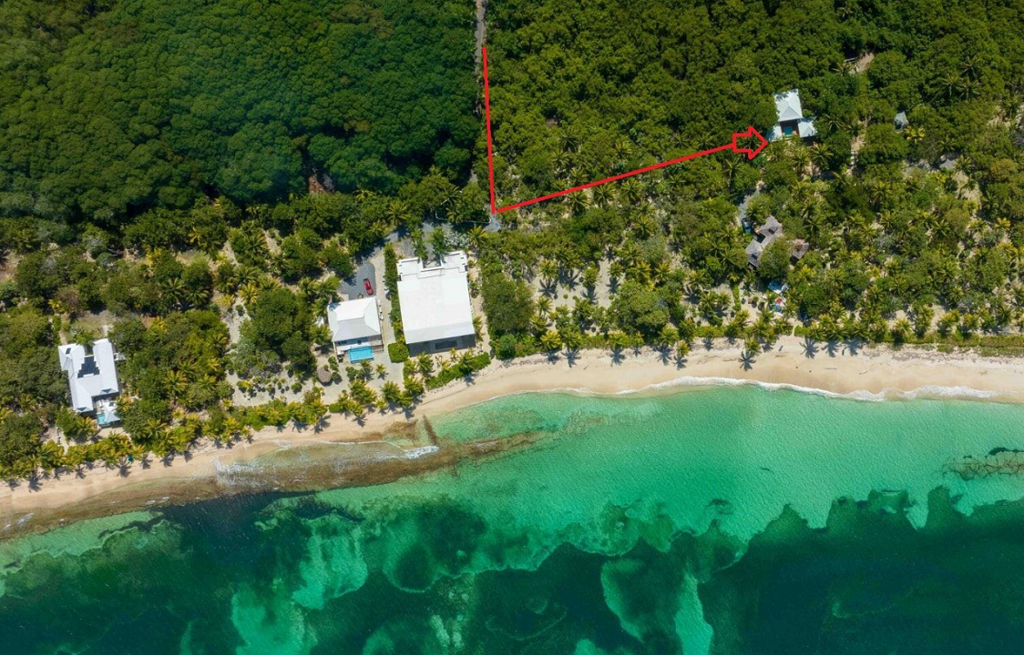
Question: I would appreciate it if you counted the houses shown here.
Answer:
five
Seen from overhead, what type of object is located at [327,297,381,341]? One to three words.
house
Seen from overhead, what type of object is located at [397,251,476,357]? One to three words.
house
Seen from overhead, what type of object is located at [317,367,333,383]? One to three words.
umbrella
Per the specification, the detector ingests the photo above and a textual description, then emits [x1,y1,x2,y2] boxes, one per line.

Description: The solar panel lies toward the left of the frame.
[78,356,100,378]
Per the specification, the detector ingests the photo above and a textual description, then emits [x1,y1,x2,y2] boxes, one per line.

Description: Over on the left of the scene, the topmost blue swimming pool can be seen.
[348,346,375,363]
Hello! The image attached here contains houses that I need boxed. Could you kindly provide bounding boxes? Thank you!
[743,214,782,270]
[59,339,124,412]
[327,297,381,341]
[397,251,476,357]
[767,89,818,143]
